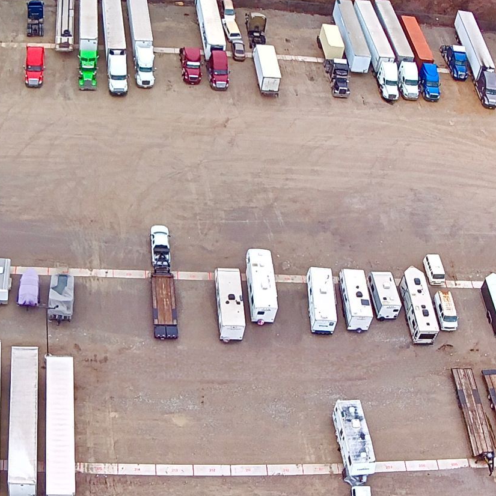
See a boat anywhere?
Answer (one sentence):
Yes, looking at the shot, I can spot a boat.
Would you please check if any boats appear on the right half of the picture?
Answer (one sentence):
No, on the right half of the picture there is no boat.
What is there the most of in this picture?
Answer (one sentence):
The largest share of the image is taken up by paved ground.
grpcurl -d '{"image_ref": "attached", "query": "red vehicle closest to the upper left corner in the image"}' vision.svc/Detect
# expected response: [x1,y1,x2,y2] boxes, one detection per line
[23,45,45,85]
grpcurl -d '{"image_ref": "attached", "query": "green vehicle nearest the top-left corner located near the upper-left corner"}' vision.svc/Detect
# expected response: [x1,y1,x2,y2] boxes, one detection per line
[78,51,99,89]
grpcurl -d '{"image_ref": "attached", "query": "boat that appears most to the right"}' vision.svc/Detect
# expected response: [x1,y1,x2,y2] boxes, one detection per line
[48,273,74,331]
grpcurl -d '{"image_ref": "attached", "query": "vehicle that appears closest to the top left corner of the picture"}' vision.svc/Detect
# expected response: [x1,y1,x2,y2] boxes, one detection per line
[25,0,45,33]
